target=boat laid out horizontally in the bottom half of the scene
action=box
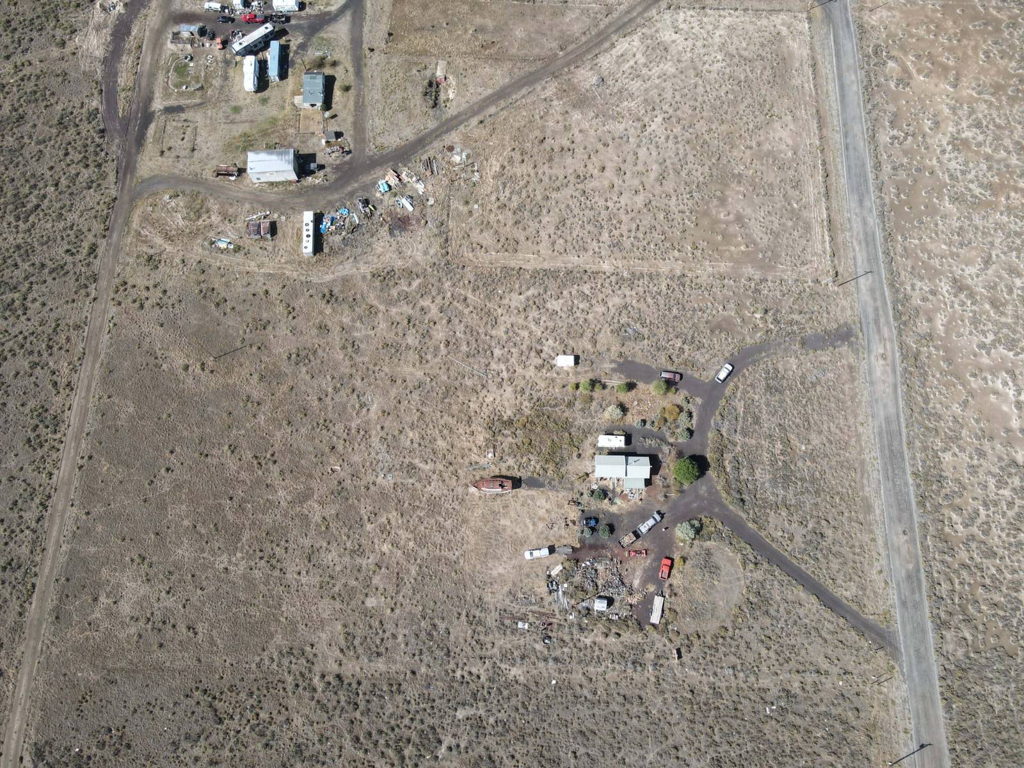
[470,477,512,493]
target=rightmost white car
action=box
[714,363,733,385]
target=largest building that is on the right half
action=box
[594,455,652,490]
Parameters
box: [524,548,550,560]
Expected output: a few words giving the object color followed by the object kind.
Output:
white vehicle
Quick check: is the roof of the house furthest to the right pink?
No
